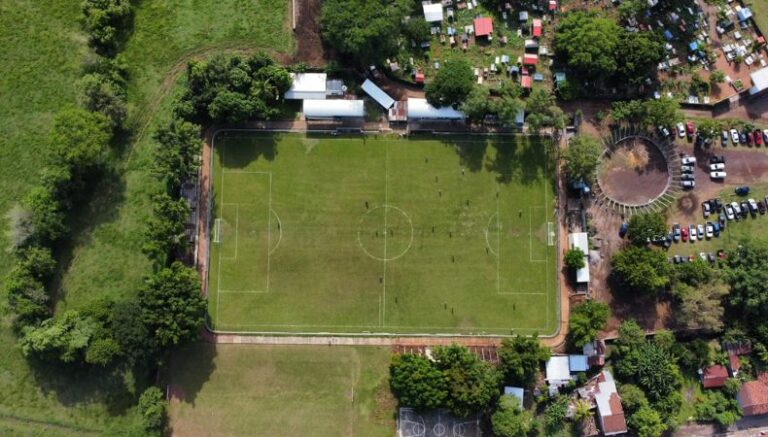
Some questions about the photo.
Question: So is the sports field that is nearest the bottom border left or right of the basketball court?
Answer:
on its left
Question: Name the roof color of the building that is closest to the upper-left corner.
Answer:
white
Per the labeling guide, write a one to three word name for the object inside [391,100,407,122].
shed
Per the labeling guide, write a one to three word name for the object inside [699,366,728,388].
house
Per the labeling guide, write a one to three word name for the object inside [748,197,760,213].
vehicle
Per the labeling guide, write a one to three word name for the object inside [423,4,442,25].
building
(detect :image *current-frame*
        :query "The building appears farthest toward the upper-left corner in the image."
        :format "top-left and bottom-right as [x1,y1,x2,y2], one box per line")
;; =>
[284,73,327,102]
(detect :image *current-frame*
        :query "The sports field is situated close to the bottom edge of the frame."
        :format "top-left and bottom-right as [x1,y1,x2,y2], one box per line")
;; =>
[152,346,396,437]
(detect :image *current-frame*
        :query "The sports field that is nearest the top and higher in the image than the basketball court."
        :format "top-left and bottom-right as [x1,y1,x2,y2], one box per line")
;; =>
[206,130,558,337]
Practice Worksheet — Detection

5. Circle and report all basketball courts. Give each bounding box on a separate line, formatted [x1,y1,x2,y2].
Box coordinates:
[397,405,481,437]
